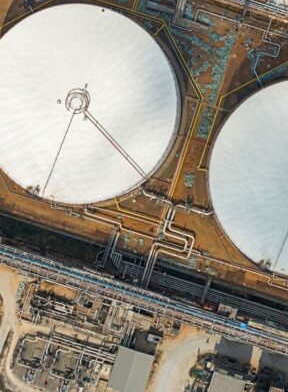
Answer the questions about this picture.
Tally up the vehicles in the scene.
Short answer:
zero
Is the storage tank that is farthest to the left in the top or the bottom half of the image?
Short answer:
top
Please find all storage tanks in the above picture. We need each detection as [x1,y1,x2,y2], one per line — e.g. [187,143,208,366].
[0,1,191,208]
[207,78,288,283]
